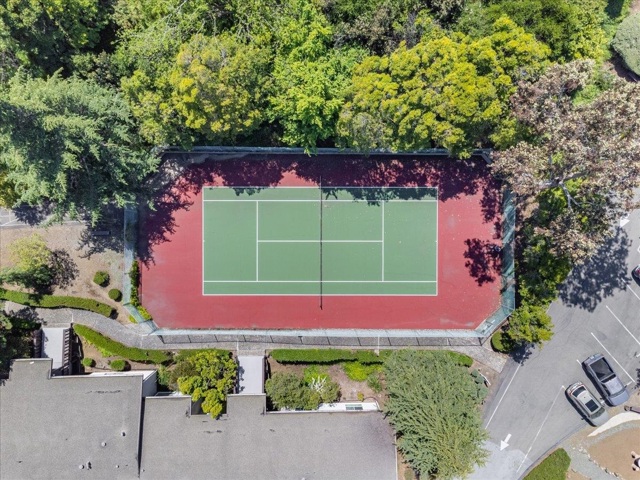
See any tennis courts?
Yes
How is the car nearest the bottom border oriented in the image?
diagonally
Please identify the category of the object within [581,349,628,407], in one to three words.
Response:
truck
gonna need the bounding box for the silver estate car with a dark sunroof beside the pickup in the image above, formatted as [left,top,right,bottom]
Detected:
[568,379,607,425]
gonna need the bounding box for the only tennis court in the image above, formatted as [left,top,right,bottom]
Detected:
[137,154,502,330]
